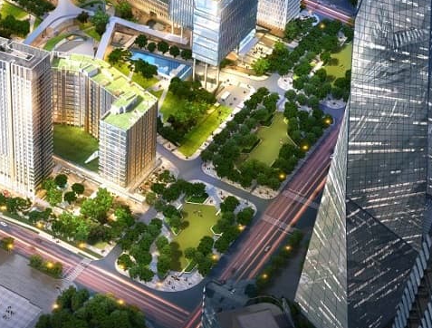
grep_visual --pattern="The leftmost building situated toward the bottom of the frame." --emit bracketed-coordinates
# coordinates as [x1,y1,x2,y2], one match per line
[203,274,293,328]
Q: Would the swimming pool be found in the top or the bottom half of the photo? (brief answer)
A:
top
